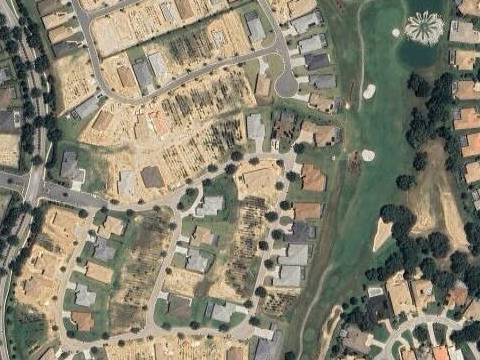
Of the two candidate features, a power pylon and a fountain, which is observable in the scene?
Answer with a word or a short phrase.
fountain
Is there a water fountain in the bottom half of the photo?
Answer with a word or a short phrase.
No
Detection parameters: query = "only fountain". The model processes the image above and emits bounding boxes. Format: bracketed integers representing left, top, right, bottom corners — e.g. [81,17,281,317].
[403,4,446,49]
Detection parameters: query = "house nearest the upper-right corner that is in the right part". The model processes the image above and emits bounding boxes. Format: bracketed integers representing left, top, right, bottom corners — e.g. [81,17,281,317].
[451,0,480,14]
